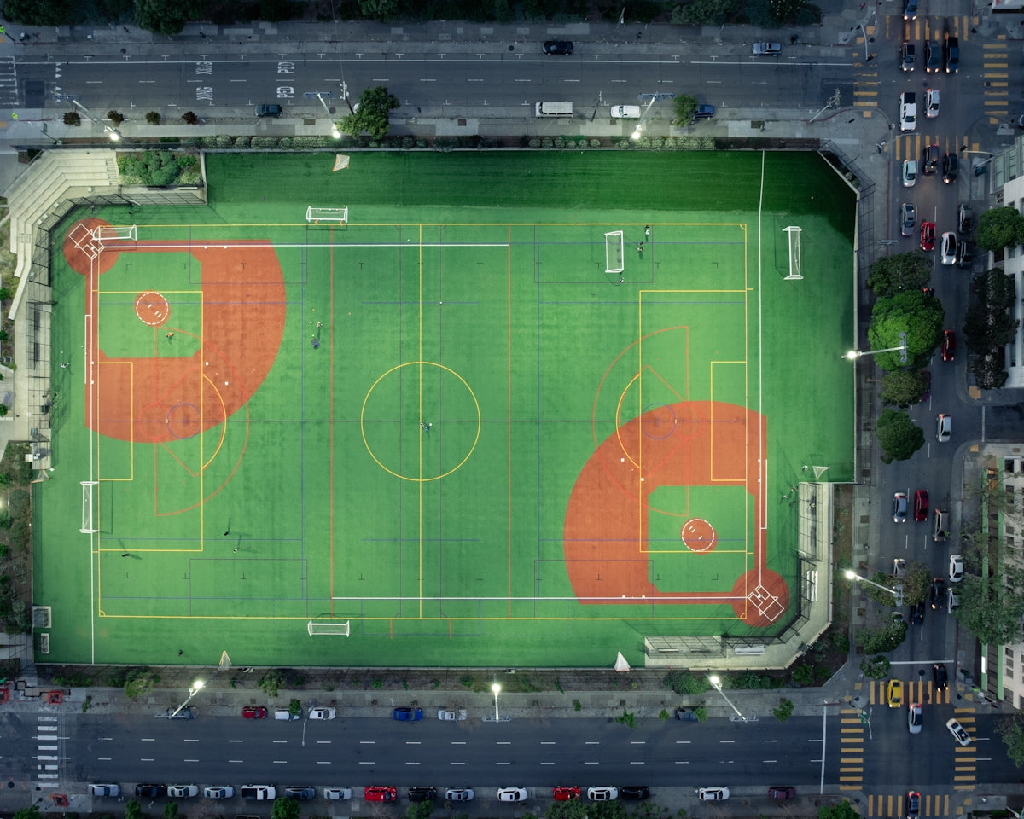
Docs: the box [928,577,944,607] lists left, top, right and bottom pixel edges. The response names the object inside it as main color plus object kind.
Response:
black car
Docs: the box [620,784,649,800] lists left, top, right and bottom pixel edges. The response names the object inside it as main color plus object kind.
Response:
black car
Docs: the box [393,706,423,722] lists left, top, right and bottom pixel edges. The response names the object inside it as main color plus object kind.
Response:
blue car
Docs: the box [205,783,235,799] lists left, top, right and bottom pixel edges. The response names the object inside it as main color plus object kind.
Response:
blue car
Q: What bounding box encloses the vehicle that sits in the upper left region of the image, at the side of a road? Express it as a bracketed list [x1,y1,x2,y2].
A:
[255,104,284,119]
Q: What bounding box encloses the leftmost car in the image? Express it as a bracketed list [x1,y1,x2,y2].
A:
[89,781,122,798]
